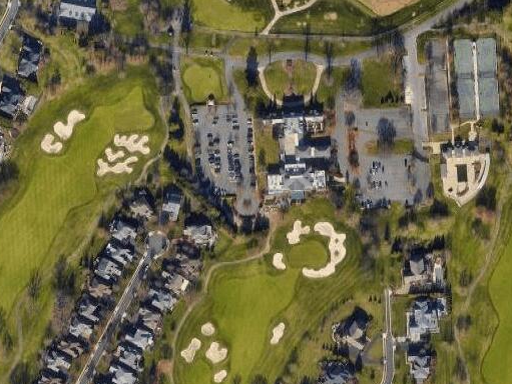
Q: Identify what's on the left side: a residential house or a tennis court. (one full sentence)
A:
You can see a residential house on the left side.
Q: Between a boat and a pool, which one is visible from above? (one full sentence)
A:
Of the two, only a pool appears.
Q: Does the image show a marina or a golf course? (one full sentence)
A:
What you see here is a golf course.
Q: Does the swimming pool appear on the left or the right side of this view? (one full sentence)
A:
The swimming pool appears in the right half of the scene.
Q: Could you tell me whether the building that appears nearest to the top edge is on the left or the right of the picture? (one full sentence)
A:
It is on the left.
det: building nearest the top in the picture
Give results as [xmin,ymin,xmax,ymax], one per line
[58,0,99,21]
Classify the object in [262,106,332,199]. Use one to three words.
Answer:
building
